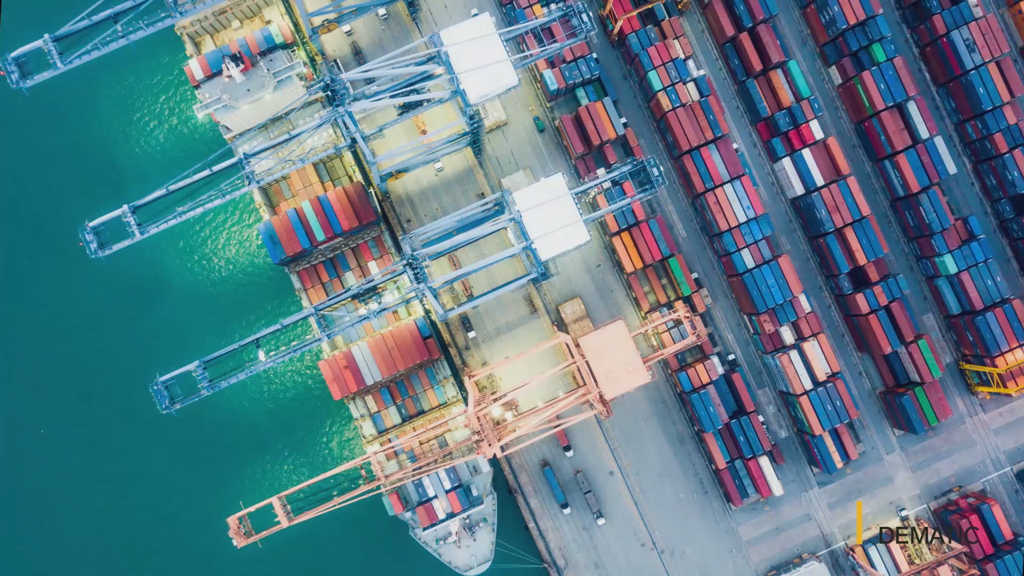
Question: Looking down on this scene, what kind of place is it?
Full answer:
What you see here is a port.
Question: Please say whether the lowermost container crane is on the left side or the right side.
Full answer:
The lowermost container crane is on the right side of the image.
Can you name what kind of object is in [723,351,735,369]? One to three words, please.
vehicle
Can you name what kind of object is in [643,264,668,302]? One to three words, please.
shipping container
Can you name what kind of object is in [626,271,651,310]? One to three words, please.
shipping container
